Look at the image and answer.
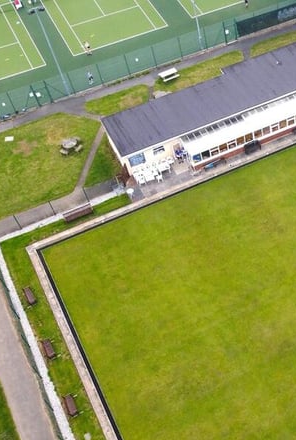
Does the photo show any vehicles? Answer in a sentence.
No, there appears to be no vehicle in this shot.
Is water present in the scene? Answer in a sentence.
No, no water is visible.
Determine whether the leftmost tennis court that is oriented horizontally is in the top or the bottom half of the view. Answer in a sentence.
You can find the leftmost tennis court that is oriented horizontally in the top half.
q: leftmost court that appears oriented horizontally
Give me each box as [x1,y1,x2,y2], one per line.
[42,0,167,56]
